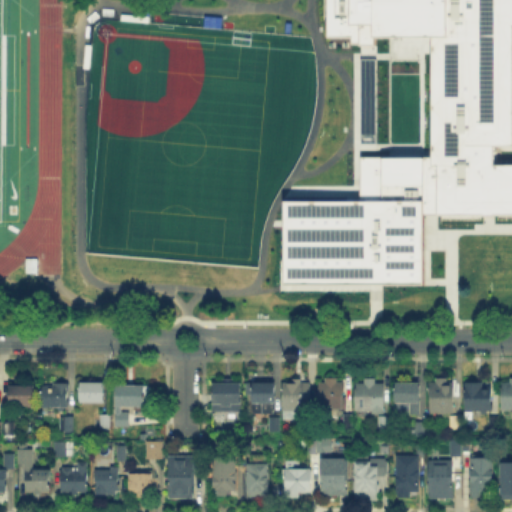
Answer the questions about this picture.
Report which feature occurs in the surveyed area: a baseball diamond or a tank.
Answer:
baseball diamond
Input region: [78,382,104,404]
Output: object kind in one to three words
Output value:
house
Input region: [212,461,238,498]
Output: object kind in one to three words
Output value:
house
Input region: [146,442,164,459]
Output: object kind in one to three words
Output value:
building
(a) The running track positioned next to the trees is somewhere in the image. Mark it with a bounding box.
[0,0,66,276]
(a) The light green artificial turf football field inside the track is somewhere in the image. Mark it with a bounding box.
[0,0,39,249]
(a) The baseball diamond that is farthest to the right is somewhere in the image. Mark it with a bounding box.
[86,16,318,270]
